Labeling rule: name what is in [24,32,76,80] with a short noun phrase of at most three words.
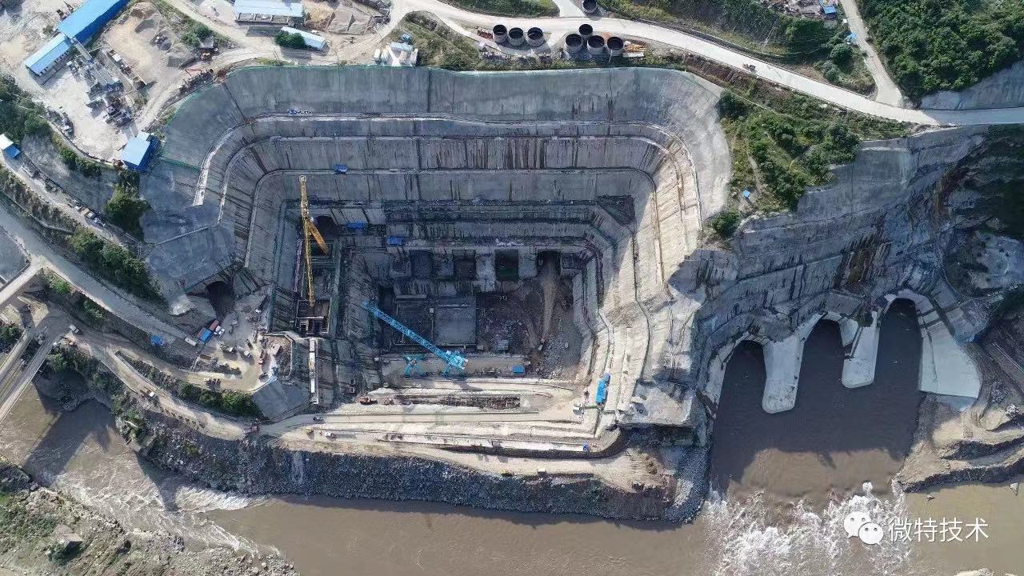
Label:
shed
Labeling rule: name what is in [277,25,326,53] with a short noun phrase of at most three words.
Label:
shed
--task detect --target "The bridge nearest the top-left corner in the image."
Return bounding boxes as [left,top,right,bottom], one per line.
[0,262,47,312]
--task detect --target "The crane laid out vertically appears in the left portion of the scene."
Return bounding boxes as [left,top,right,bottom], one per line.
[301,175,328,306]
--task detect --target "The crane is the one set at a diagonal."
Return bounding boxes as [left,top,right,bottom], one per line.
[363,302,468,380]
